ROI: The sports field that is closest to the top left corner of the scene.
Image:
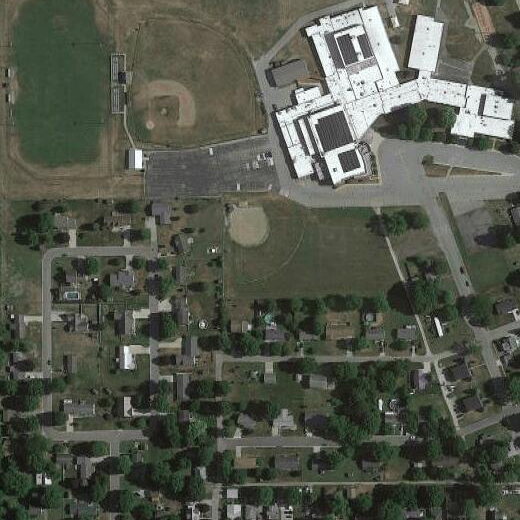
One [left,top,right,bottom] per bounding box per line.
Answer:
[14,0,110,166]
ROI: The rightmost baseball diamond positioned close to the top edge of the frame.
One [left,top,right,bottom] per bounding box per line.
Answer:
[129,19,254,144]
